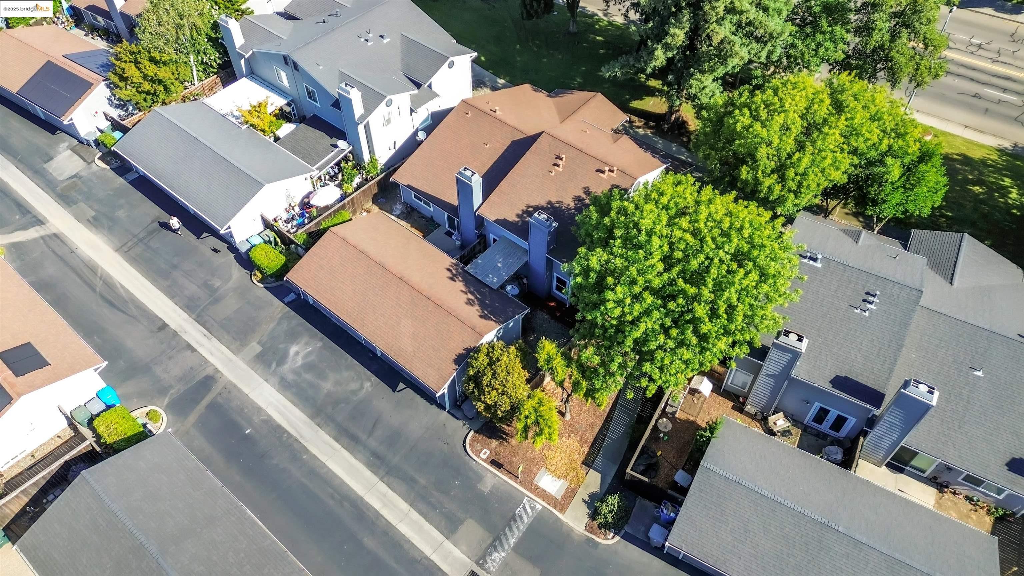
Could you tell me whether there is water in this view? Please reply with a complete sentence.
No, there is no water in the image.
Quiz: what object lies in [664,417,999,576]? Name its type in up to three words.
building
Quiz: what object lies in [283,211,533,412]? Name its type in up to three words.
building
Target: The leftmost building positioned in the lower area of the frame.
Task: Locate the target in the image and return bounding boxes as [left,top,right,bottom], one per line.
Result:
[0,251,112,470]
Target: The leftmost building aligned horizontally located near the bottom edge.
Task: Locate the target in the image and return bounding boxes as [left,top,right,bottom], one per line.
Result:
[10,429,314,576]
